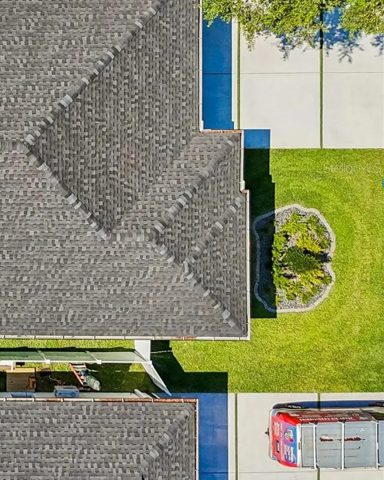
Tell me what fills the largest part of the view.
buildings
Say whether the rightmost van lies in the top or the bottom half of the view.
bottom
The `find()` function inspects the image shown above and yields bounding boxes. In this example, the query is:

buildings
[0,390,198,480]
[0,0,250,340]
